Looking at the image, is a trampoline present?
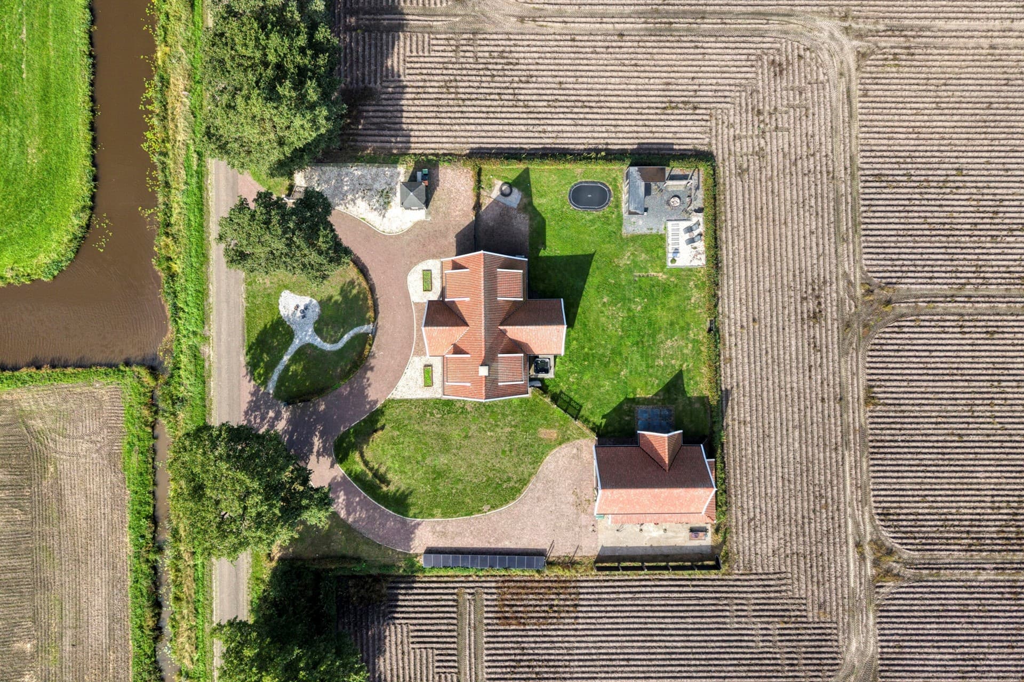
Yes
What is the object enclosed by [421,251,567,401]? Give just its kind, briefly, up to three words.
house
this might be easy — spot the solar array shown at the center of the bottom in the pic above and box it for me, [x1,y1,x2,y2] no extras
[423,555,545,570]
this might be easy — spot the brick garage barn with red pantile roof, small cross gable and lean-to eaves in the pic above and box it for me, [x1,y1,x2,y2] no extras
[592,429,717,526]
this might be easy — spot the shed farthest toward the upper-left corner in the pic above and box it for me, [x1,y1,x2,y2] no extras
[400,182,427,211]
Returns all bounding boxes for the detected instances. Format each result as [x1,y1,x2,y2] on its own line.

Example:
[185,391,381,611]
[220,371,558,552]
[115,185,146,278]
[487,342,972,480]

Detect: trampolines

[568,180,613,211]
